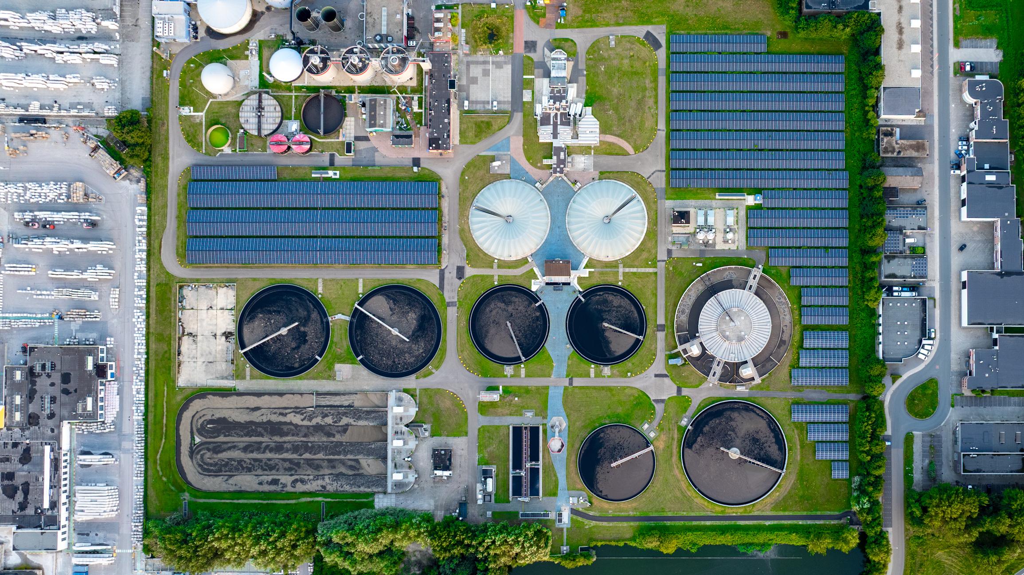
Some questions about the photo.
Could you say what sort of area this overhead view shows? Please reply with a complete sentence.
This looks like an industrial area.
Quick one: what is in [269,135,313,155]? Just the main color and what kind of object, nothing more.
pink silo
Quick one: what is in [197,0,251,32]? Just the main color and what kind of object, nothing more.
white storage tank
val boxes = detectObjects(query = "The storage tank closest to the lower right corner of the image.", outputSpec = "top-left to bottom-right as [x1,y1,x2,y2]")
[681,400,789,508]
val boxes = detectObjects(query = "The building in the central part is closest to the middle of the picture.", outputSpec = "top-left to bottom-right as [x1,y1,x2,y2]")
[527,256,594,291]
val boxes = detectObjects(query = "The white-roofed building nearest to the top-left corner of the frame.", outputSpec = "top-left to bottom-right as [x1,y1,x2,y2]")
[151,0,191,43]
